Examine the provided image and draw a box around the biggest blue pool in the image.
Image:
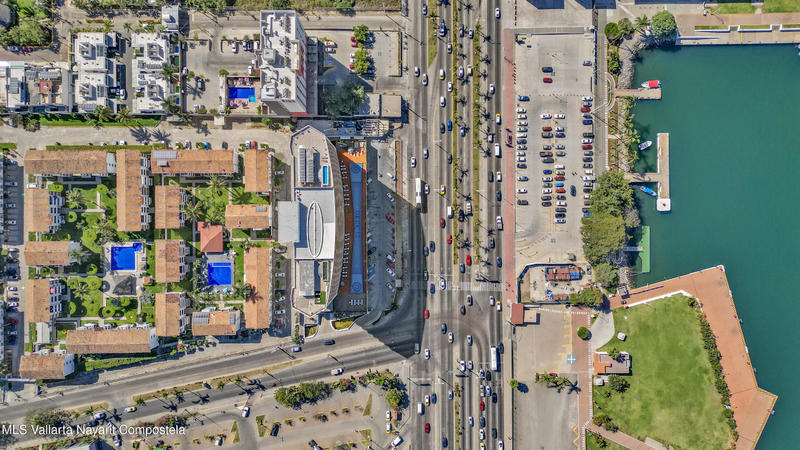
[348,162,364,294]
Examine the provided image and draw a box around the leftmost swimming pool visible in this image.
[110,242,143,271]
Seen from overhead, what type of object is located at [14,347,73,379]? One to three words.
house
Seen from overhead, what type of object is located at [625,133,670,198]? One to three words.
pier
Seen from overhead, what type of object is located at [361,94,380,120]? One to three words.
building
